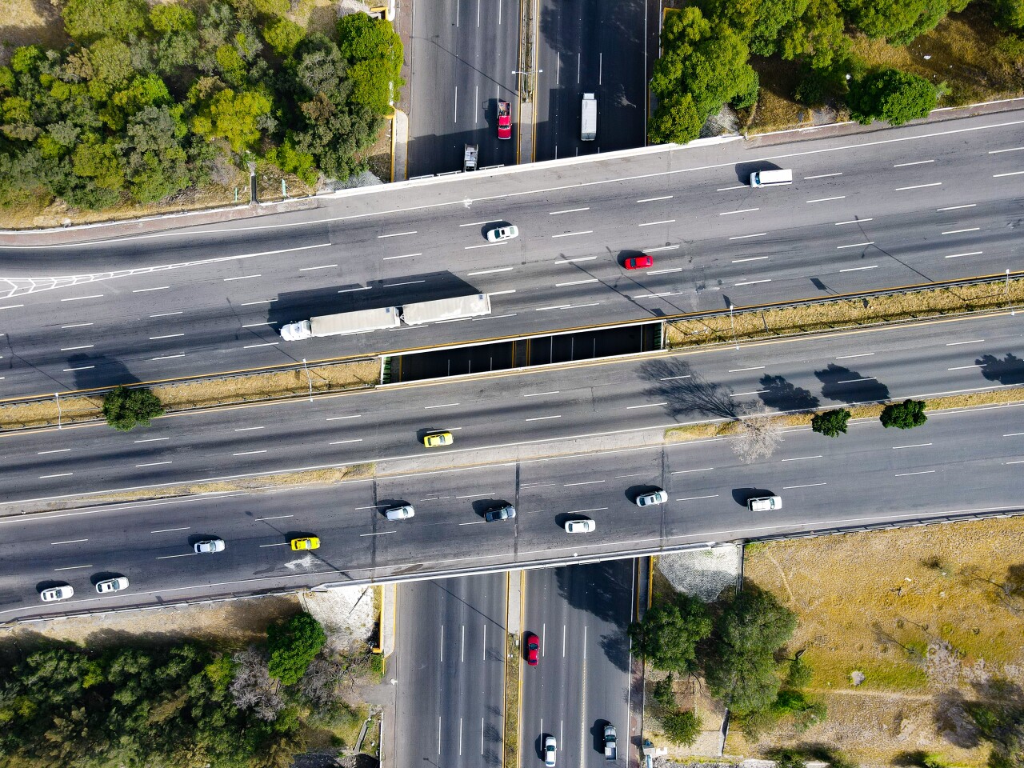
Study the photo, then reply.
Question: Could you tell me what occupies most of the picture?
paved ground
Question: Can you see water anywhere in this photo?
No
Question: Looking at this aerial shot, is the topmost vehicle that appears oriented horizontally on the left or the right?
right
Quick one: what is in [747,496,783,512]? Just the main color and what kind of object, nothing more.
white car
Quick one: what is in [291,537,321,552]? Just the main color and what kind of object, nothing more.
yellow car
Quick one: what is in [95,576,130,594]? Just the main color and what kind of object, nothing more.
white car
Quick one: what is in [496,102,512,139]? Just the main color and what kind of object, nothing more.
red vehicle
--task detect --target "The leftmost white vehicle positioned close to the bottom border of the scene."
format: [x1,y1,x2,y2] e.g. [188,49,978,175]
[543,735,557,767]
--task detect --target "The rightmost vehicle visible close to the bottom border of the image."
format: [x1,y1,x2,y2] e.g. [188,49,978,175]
[603,723,619,762]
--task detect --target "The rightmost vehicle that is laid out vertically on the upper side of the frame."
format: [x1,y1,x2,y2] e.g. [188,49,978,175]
[581,94,599,143]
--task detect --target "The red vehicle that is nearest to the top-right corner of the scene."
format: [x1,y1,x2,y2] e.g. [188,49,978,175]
[624,255,654,270]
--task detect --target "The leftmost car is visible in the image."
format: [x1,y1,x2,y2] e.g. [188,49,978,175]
[40,584,75,601]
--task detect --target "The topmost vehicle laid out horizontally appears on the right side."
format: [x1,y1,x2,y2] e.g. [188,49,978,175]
[750,167,795,189]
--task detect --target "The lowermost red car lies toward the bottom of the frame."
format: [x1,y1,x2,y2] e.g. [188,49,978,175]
[526,634,540,665]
